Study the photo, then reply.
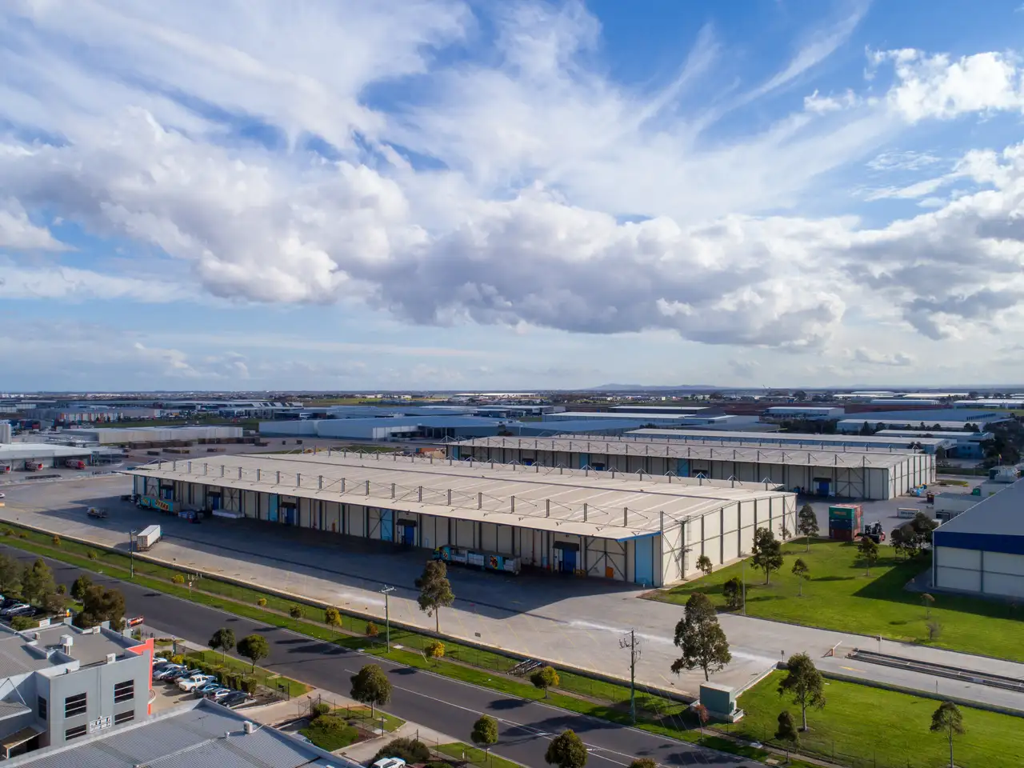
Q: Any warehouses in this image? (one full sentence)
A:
Yes, I can see a warehouse in this picture.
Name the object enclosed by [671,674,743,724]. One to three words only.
building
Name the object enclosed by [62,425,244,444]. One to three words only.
shed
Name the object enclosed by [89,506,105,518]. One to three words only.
vehicle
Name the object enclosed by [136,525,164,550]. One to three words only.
vehicle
